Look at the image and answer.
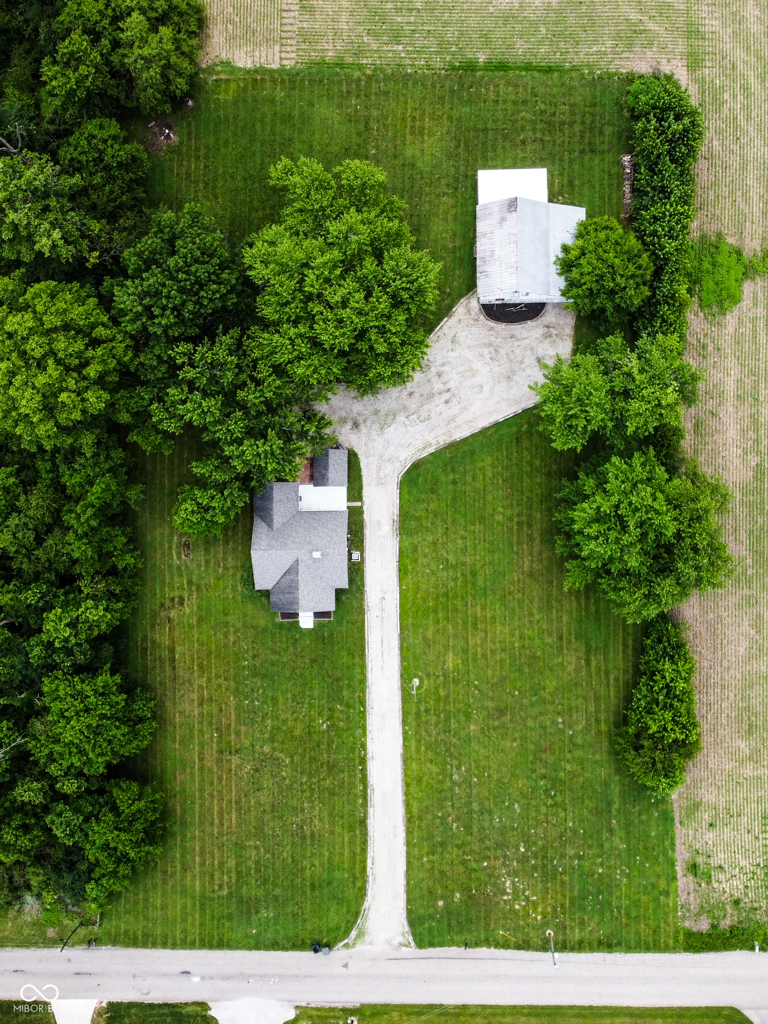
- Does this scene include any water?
No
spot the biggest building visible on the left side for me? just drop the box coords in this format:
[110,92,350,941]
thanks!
[251,482,350,613]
